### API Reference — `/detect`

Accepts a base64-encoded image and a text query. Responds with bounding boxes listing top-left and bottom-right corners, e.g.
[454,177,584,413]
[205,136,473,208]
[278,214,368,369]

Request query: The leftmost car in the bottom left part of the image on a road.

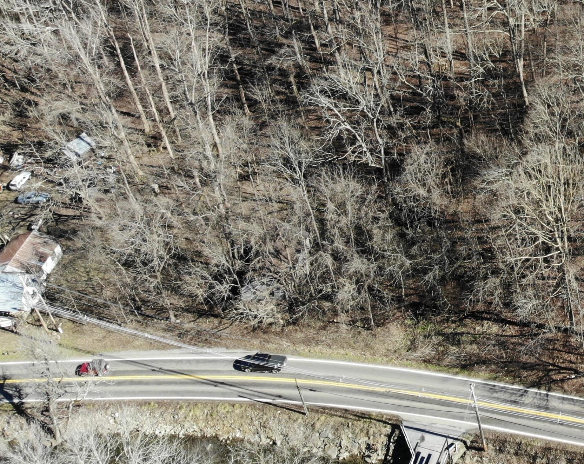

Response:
[77,356,108,376]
